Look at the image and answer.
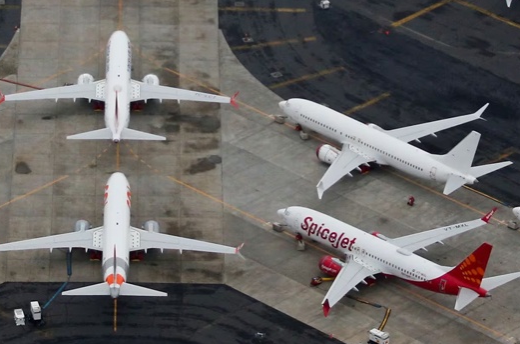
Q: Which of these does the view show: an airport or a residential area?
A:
airport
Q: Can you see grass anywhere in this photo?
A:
No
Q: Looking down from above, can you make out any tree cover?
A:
No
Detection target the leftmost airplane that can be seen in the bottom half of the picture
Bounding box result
[0,174,245,299]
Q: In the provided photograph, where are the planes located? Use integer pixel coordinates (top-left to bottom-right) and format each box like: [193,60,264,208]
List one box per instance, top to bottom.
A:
[0,32,239,143]
[279,99,513,200]
[0,174,245,299]
[277,207,520,317]
[513,207,520,222]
